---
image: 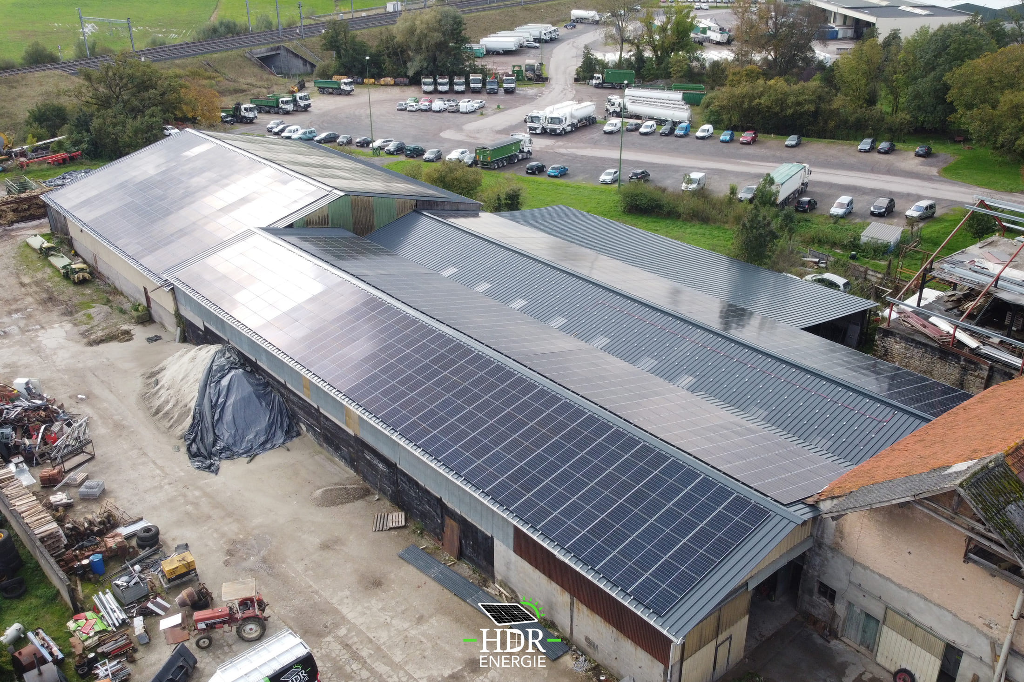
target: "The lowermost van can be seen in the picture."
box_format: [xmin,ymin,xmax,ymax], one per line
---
[201,622,318,682]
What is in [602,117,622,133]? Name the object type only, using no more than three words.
vehicle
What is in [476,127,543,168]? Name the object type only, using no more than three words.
truck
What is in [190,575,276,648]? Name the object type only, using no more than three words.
work vehicle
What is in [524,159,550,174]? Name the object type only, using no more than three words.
car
